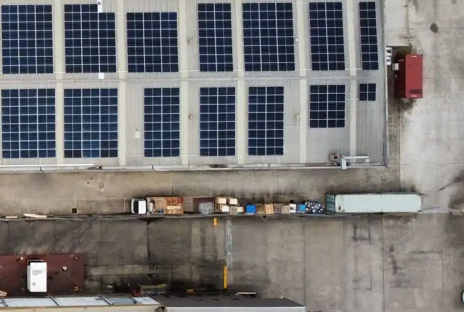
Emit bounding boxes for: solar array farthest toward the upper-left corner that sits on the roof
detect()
[1,3,54,74]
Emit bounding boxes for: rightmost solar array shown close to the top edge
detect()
[359,0,380,70]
